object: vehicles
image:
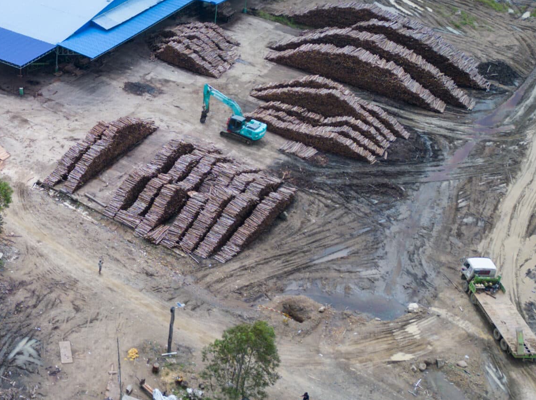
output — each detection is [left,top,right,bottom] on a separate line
[457,258,536,363]
[199,80,259,144]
